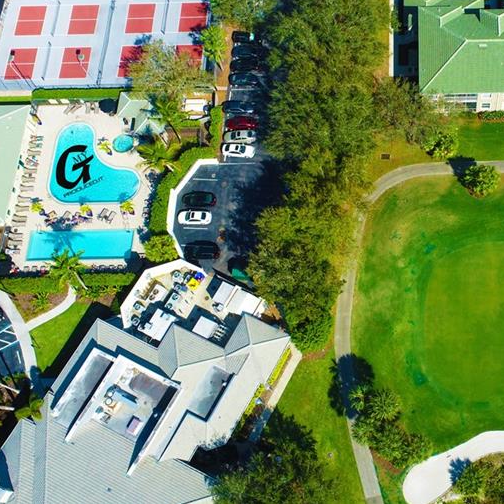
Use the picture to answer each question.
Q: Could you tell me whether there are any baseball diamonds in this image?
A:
No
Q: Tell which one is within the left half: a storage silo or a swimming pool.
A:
swimming pool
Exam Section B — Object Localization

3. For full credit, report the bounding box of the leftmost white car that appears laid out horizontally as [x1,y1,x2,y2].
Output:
[178,209,210,224]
